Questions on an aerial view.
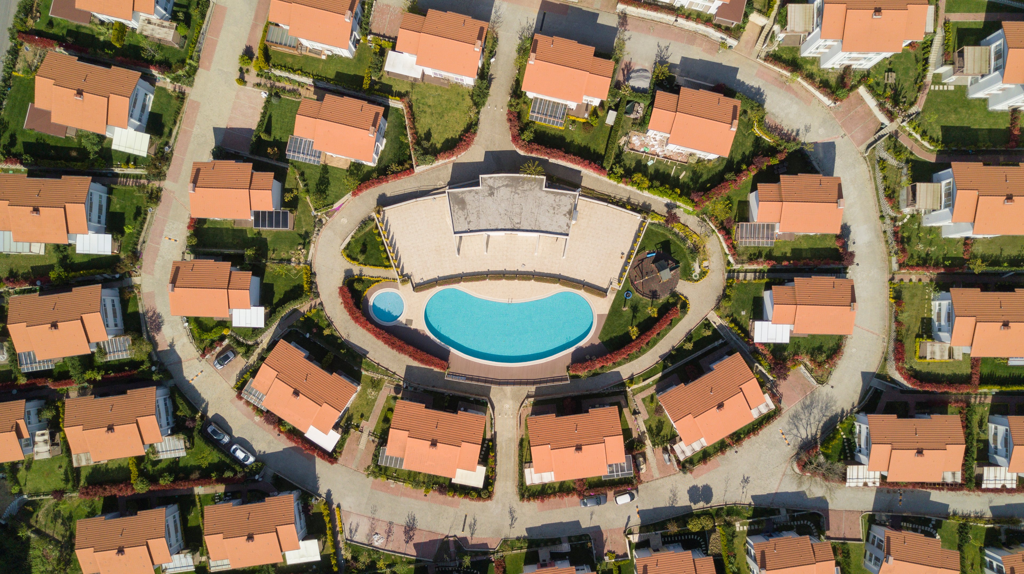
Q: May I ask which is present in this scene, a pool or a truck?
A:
pool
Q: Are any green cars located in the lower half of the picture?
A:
No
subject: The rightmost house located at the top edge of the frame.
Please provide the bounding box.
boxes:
[971,18,1024,106]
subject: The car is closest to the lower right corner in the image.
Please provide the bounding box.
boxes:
[614,489,639,506]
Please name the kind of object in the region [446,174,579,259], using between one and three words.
building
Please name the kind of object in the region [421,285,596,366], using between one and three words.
swimming pool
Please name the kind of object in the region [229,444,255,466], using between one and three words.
car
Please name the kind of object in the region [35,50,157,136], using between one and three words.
house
